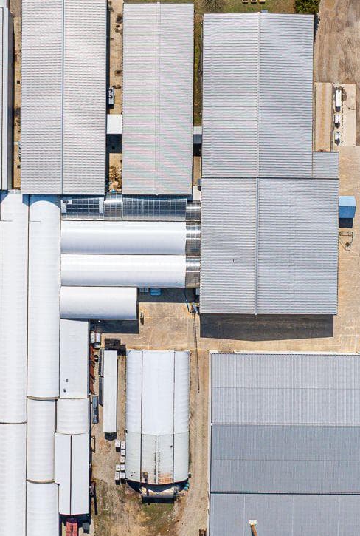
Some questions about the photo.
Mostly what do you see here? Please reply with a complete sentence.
The scene is dominated by buildings.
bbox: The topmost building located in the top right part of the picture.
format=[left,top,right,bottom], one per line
[202,12,338,177]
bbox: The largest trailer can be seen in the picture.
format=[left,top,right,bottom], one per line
[104,349,117,433]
